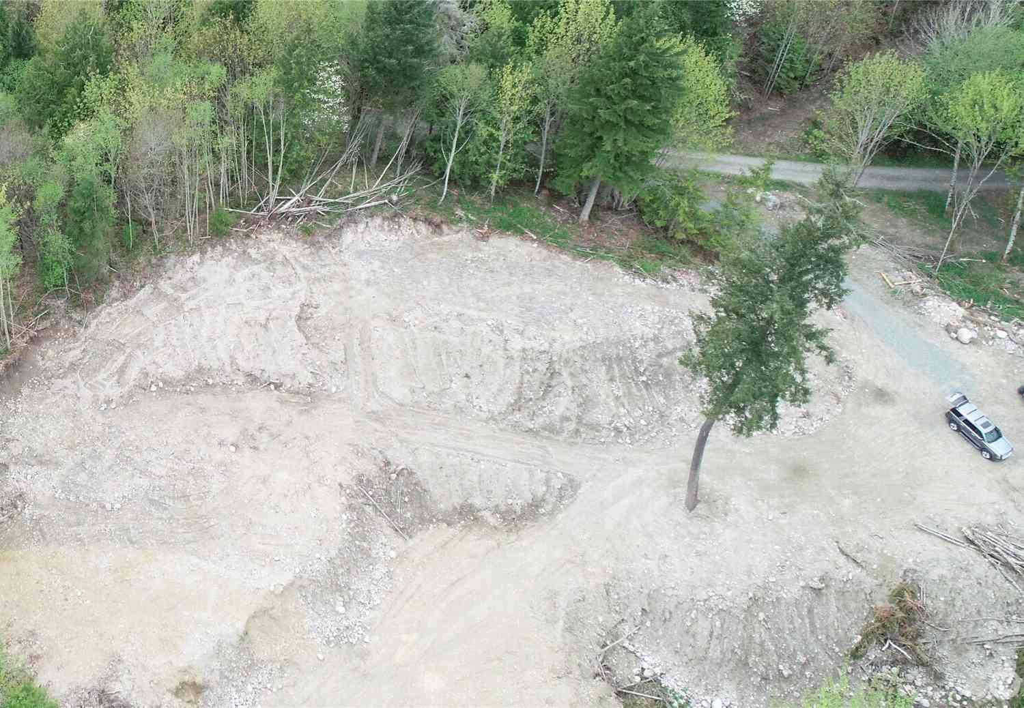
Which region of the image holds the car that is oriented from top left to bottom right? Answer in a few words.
right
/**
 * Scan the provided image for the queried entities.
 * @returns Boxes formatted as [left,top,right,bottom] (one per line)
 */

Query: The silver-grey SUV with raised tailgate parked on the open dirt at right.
[948,388,1020,462]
